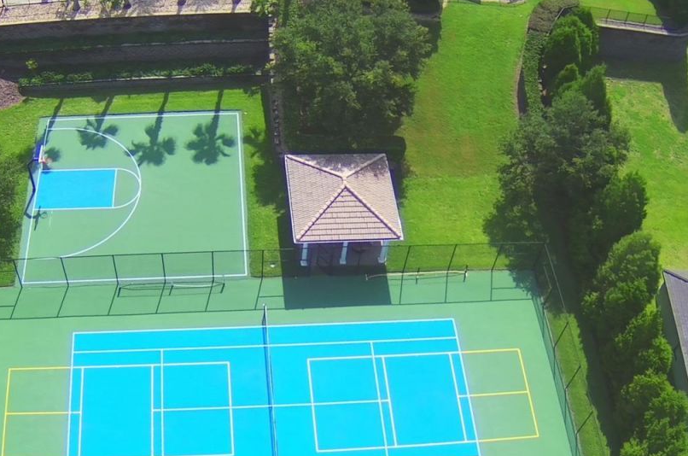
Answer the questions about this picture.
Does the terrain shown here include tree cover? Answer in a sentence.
Yes, tree cover shows up in the scene.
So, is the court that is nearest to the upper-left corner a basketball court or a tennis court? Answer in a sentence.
The court that is nearest to the upper-left corner appears to be a basketball court.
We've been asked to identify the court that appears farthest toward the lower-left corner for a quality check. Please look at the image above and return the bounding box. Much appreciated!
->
[1,360,234,456]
